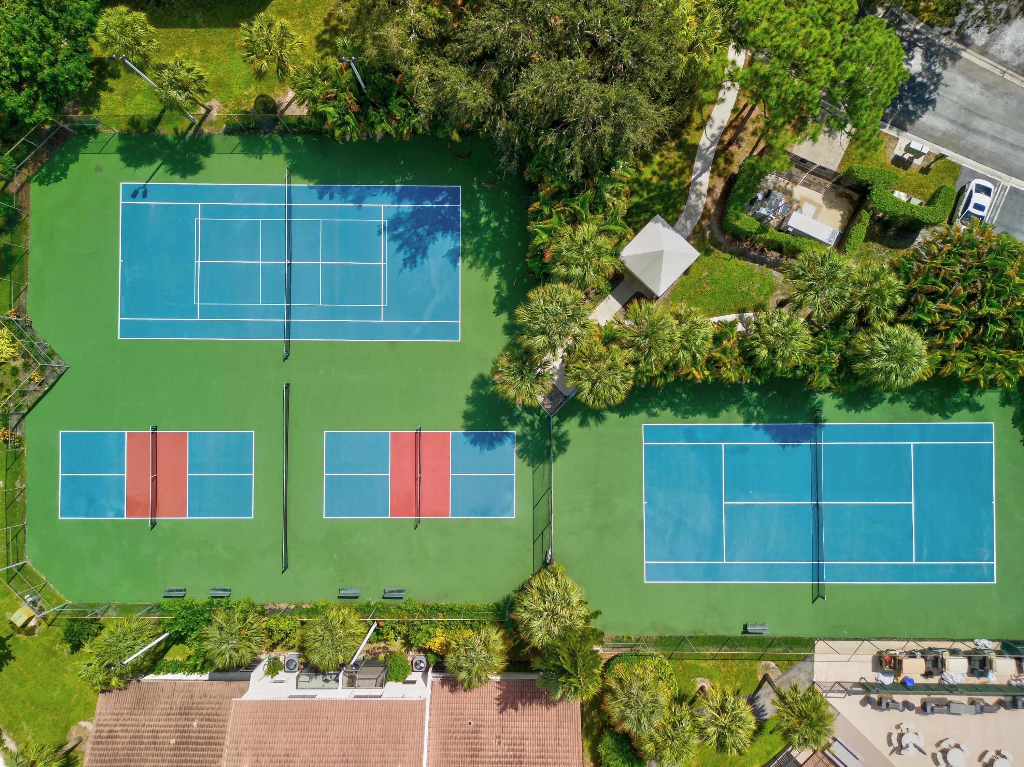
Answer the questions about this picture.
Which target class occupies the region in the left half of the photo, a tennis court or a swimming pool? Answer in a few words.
tennis court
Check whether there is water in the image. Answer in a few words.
No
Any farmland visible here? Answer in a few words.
No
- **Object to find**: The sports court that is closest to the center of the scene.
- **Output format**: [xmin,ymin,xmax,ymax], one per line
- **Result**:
[324,431,516,518]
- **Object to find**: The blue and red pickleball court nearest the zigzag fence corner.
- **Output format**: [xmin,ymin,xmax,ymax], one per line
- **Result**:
[59,431,254,519]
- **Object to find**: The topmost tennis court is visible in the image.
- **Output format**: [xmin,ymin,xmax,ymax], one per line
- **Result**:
[118,183,461,341]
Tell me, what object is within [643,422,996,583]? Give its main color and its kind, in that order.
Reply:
blue tennis court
